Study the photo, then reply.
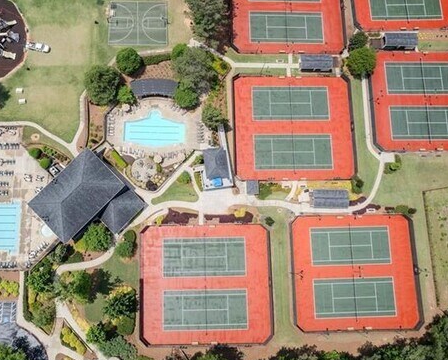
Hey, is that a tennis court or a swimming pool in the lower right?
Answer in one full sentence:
The one visible in the lower right is a tennis court.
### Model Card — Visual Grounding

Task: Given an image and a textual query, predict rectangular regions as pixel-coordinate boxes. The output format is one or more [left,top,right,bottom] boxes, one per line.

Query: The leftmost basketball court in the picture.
[108,1,168,45]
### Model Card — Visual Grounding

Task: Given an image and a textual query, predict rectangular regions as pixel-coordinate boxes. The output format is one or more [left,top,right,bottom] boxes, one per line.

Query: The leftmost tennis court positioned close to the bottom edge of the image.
[140,282,270,345]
